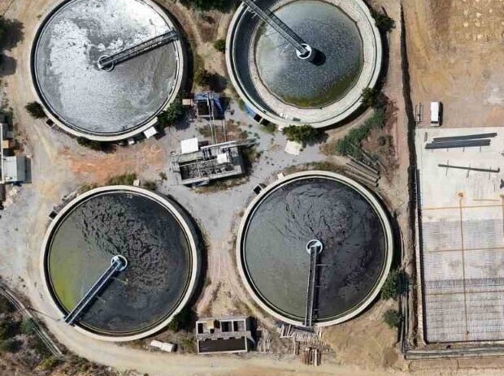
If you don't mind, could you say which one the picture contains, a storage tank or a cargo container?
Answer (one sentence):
The one in the frame is a storage tank.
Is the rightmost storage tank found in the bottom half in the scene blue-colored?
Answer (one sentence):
No, the rightmost storage tank found in the bottom half is actually gray.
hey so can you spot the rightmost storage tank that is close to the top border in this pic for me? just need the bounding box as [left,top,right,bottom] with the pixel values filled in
[227,0,384,128]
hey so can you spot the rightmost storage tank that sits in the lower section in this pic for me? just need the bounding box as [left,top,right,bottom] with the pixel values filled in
[237,171,394,328]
